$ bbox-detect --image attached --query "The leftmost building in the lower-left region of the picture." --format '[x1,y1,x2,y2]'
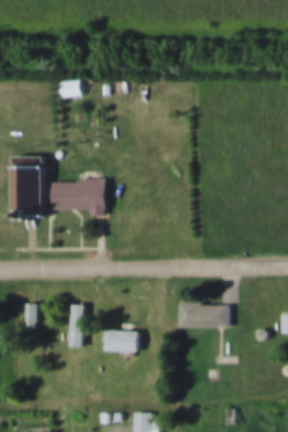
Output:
[26,302,40,326]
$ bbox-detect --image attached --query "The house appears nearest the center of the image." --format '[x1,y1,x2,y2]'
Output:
[50,179,110,218]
